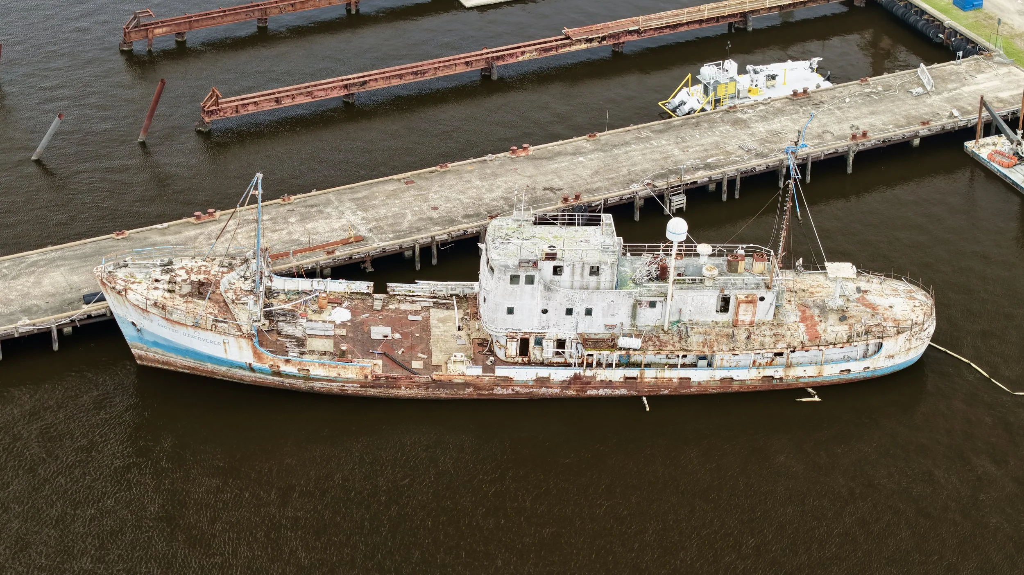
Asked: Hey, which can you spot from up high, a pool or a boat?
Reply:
boat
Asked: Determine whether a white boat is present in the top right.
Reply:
Yes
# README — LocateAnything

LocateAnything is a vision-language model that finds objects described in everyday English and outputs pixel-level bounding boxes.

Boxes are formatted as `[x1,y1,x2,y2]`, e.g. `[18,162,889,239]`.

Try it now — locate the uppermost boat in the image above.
[658,36,833,118]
